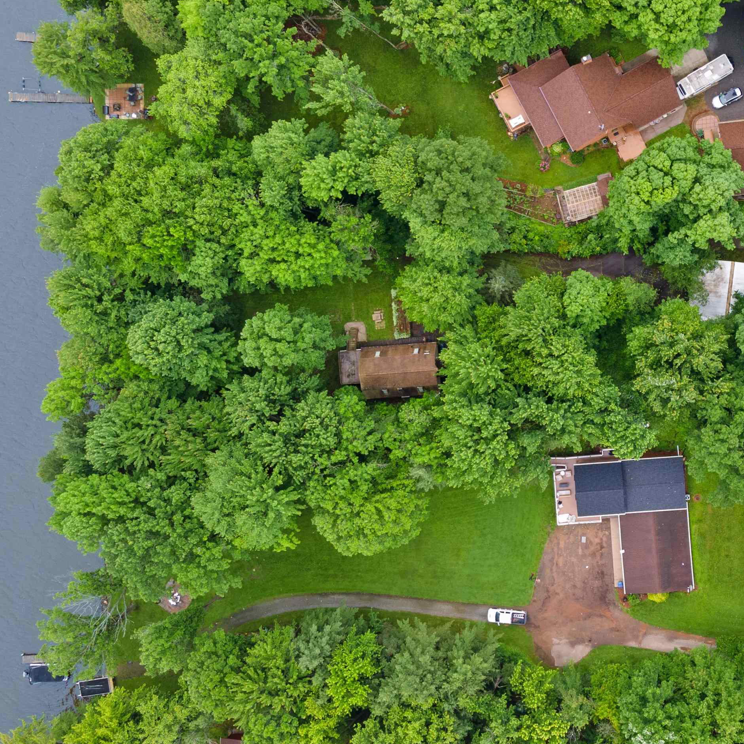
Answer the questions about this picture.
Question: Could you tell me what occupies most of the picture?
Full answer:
The bulk of the photo consists of trees.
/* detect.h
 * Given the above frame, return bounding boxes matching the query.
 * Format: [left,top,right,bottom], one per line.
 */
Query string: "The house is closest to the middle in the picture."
[336,328,444,399]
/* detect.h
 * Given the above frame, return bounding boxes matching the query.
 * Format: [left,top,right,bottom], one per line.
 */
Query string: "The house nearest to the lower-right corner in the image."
[551,449,693,593]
